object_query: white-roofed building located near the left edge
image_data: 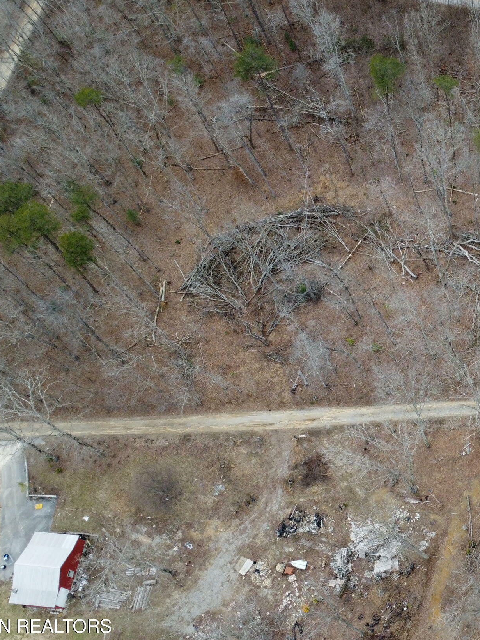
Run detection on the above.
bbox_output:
[8,533,85,610]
